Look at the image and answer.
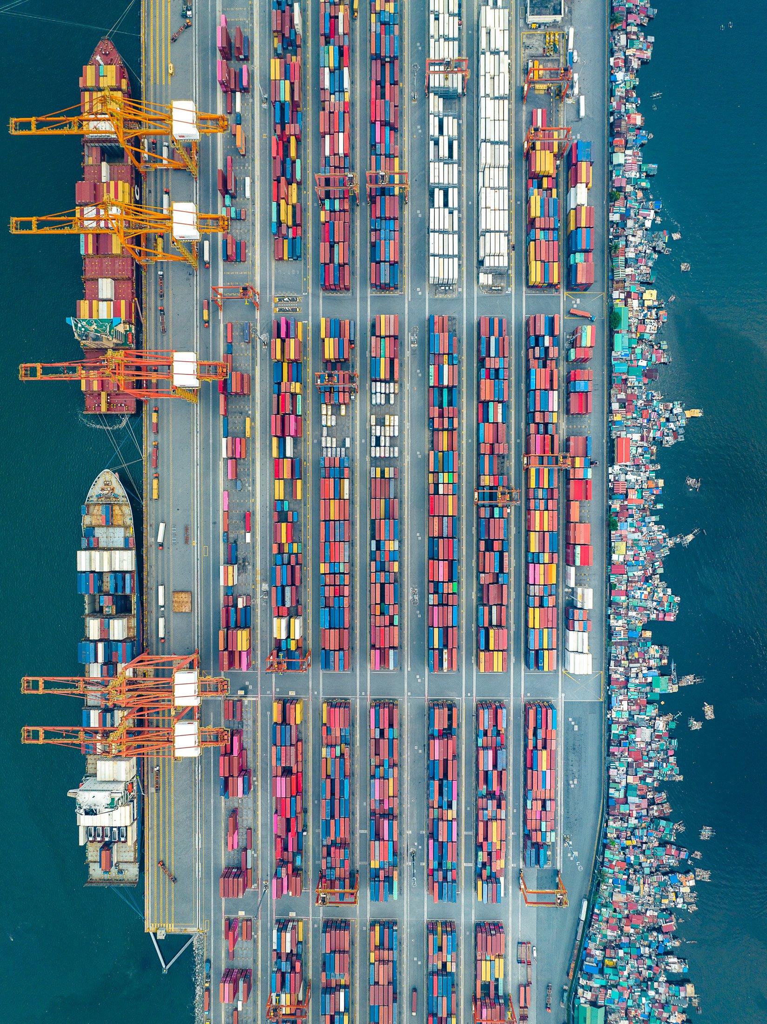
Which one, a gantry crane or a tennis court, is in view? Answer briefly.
gantry crane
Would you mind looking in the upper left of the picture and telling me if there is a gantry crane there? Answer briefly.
Yes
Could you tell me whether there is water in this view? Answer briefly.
Yes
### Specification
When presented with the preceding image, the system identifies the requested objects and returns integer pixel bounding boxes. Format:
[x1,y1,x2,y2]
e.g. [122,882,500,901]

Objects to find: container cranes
[213,284,261,312]
[524,66,574,102]
[267,648,311,674]
[8,192,229,274]
[20,694,230,760]
[524,126,572,159]
[317,172,360,206]
[472,992,518,1024]
[367,170,410,204]
[9,90,229,187]
[317,869,359,905]
[22,644,230,708]
[474,486,520,507]
[20,349,229,408]
[520,869,568,905]
[521,450,572,472]
[317,369,360,393]
[267,979,312,1019]
[426,57,471,96]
